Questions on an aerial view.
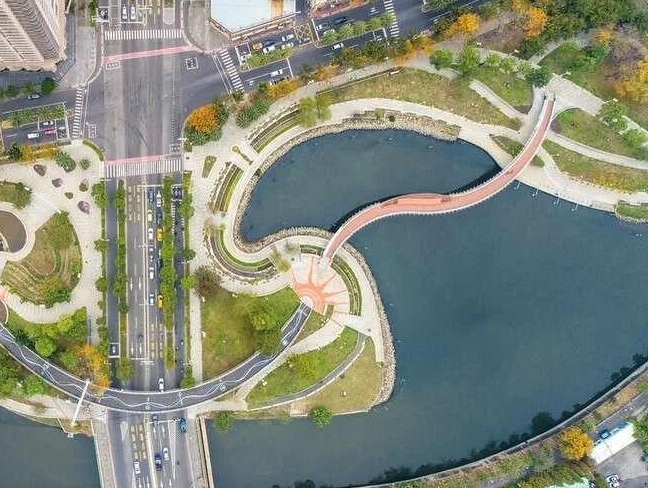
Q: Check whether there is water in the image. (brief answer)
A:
Yes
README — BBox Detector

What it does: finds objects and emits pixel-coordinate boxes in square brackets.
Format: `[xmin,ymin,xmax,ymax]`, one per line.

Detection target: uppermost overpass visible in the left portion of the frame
[0,304,311,413]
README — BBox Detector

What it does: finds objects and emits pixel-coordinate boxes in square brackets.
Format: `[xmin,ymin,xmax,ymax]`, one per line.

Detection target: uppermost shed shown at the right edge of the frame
[587,419,635,466]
